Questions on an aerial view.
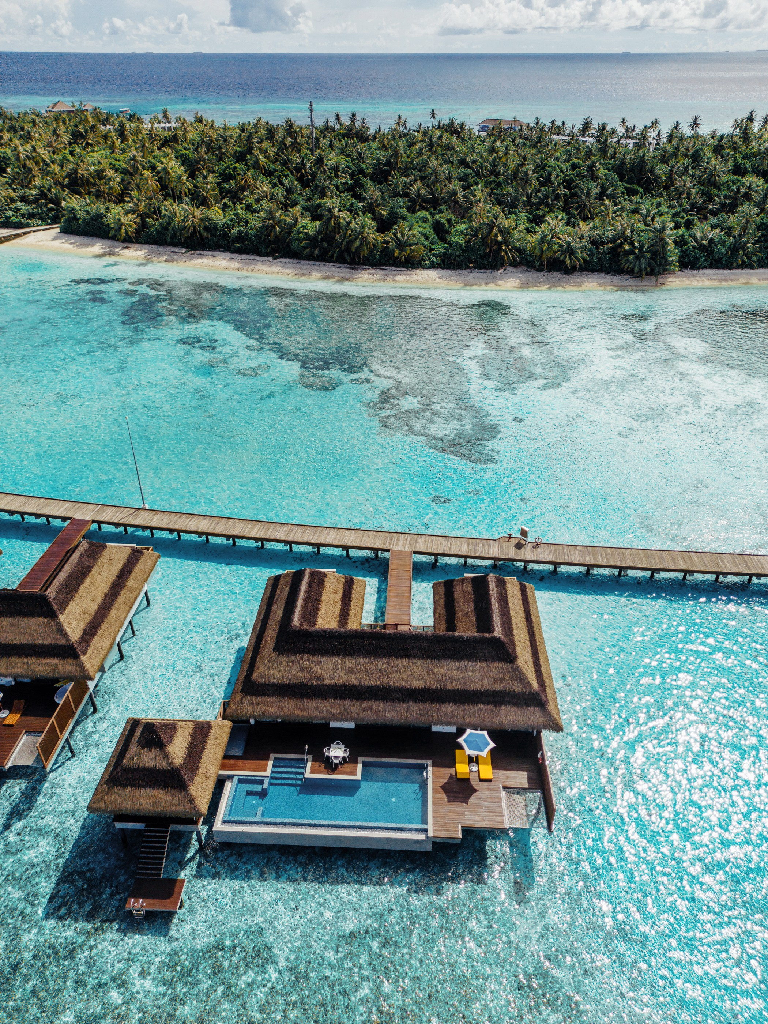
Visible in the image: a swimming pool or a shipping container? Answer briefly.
swimming pool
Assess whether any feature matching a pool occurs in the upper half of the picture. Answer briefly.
No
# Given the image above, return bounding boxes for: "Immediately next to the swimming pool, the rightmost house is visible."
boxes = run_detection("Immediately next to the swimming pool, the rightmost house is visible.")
[224,563,564,736]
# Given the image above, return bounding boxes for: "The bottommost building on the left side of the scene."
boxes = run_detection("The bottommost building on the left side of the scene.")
[84,714,235,854]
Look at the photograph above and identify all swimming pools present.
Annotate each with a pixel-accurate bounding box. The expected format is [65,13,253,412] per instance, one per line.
[212,754,433,857]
